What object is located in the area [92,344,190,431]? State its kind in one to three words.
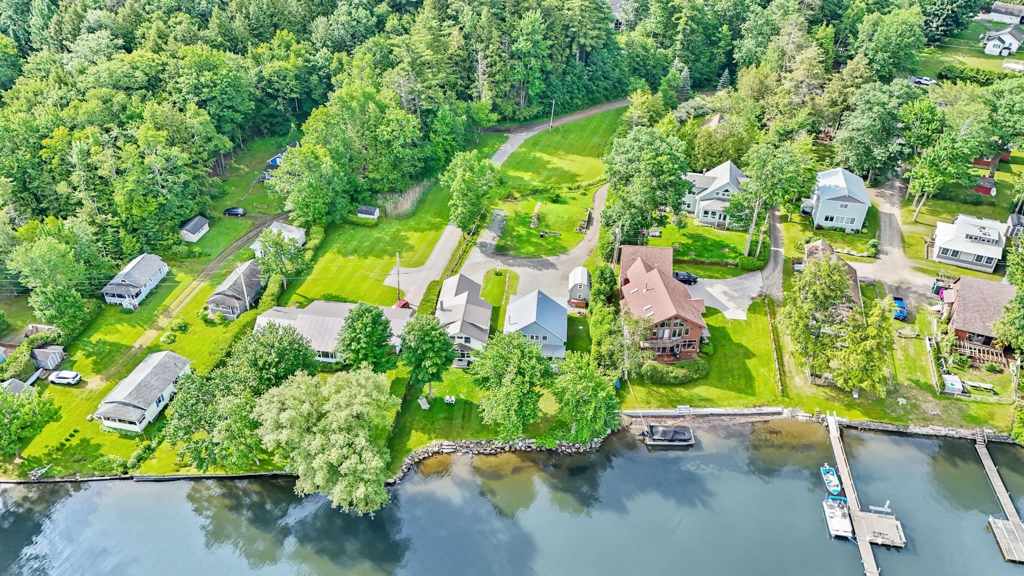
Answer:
house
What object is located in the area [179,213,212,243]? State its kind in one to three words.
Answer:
shed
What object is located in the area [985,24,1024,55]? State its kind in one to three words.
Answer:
house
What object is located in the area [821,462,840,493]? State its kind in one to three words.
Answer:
boat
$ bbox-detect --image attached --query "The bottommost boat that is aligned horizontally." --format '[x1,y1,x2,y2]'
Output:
[640,427,698,449]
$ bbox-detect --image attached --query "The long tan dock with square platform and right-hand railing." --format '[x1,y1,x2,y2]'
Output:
[827,411,908,576]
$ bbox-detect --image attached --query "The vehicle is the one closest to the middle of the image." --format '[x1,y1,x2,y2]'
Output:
[396,298,410,314]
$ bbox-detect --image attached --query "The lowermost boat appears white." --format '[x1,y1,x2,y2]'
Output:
[823,492,855,538]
